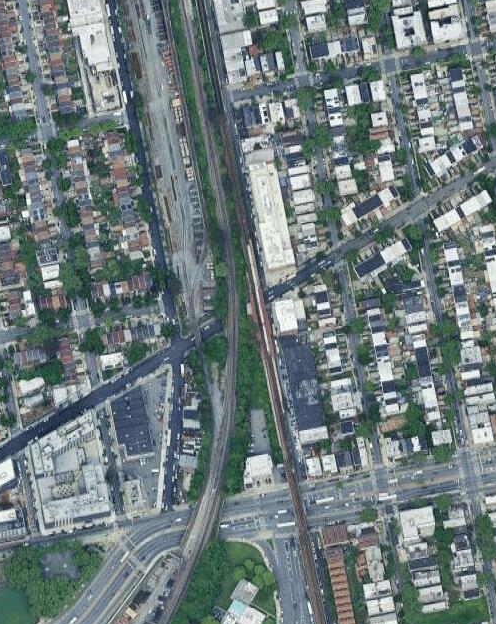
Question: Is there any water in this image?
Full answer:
No, the scene doesn't show any water.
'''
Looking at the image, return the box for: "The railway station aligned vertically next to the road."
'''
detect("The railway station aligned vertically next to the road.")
[244,240,285,402]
